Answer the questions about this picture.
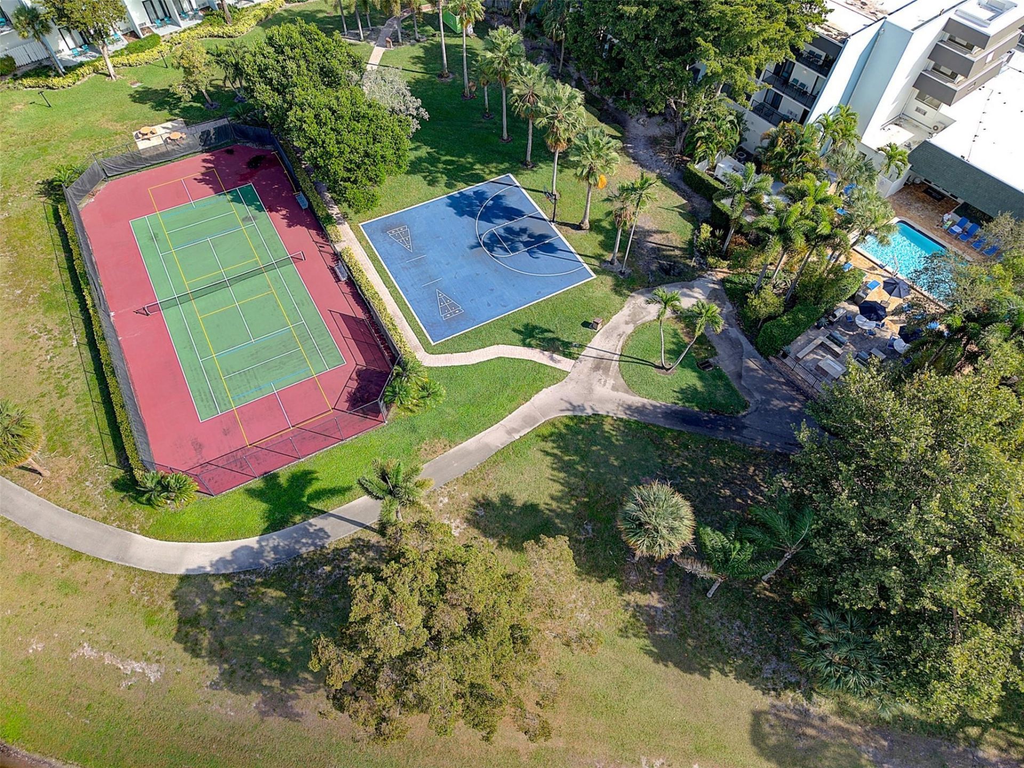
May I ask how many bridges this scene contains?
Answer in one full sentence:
There are no bridges in the image.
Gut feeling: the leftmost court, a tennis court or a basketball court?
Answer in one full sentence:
I'd identify the leftmost court as a tennis court.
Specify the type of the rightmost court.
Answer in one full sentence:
I'd identify the rightmost court as a basketball court.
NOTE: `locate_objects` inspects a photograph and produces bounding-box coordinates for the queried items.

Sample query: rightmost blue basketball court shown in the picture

[359,174,596,344]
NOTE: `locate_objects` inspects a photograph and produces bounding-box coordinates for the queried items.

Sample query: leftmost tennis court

[80,144,397,496]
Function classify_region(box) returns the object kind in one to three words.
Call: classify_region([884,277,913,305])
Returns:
umbrella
